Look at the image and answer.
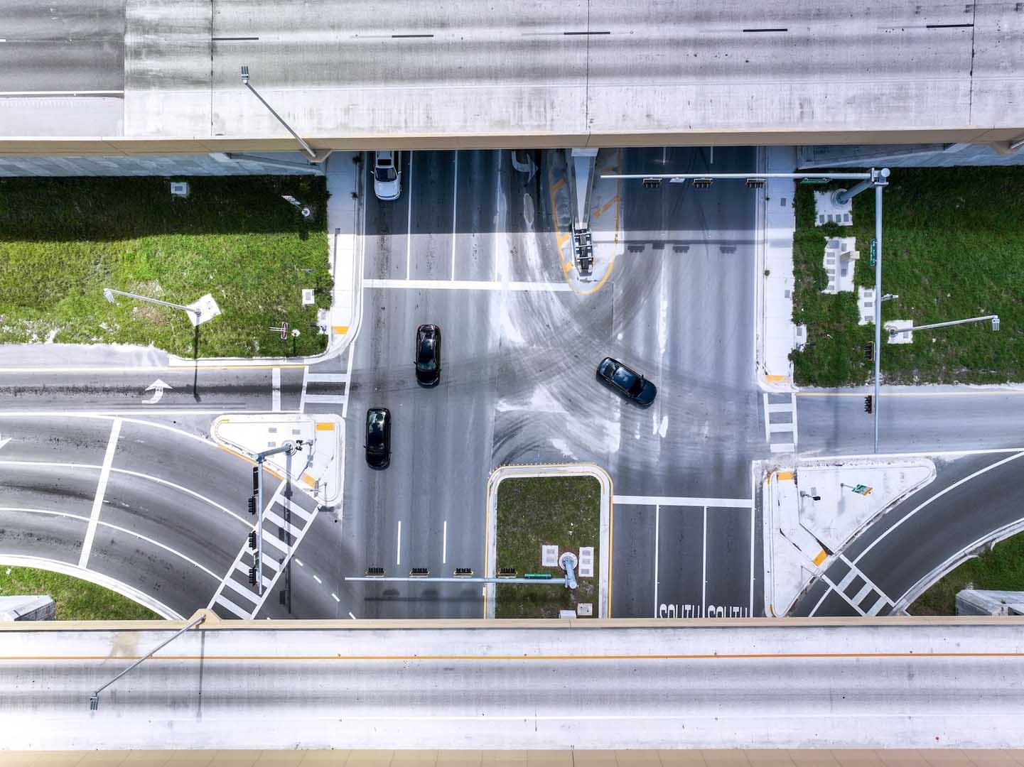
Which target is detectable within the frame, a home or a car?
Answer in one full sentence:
I can see a car in this picture.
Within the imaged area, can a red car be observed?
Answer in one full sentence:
No, this view has no red car in it.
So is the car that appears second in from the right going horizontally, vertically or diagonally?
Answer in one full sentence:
I'd say the car that appears second in from the right is aligned vertically in the picture.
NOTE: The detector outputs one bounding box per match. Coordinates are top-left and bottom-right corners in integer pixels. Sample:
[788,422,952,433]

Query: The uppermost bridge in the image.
[0,0,1024,163]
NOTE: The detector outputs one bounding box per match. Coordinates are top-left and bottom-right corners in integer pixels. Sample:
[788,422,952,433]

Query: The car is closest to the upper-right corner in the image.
[596,360,655,405]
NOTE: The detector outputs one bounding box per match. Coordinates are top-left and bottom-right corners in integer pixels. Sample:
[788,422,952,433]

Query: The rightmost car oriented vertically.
[413,326,442,387]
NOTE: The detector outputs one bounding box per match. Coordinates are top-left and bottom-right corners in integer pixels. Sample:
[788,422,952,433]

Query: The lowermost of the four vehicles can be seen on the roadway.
[363,409,393,469]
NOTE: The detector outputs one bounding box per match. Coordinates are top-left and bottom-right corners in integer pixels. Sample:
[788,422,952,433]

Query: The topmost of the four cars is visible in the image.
[371,151,402,199]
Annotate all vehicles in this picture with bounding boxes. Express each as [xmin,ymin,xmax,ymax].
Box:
[413,326,442,387]
[596,360,655,405]
[371,151,402,199]
[363,409,393,469]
